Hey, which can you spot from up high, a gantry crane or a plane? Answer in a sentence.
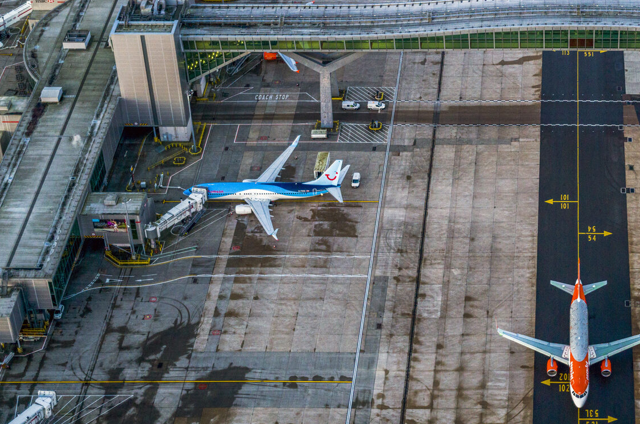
The one in the frame is a plane.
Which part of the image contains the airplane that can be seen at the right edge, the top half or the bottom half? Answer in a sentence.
The bottom half of the photo is where the airplane that can be seen at the right edge is.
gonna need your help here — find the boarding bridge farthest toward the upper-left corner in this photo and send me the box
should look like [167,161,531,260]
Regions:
[0,0,39,41]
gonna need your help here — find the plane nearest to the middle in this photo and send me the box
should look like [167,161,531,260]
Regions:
[184,135,345,239]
